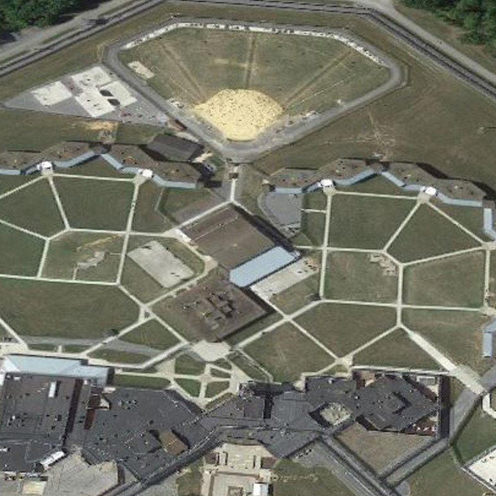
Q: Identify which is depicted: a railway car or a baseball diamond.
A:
baseball diamond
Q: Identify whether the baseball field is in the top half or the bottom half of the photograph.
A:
top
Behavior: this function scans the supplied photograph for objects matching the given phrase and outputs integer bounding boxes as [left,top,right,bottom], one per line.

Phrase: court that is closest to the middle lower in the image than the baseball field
[254,258,319,298]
